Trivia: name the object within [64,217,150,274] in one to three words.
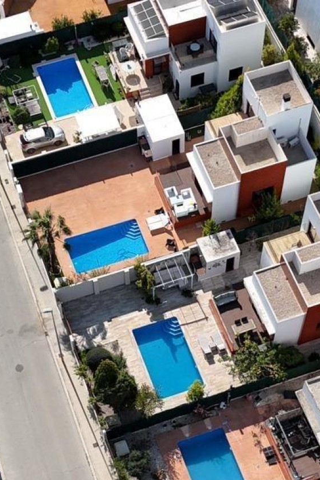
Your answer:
swimming pool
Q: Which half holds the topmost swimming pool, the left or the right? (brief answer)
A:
left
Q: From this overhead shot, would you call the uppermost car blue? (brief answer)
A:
No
